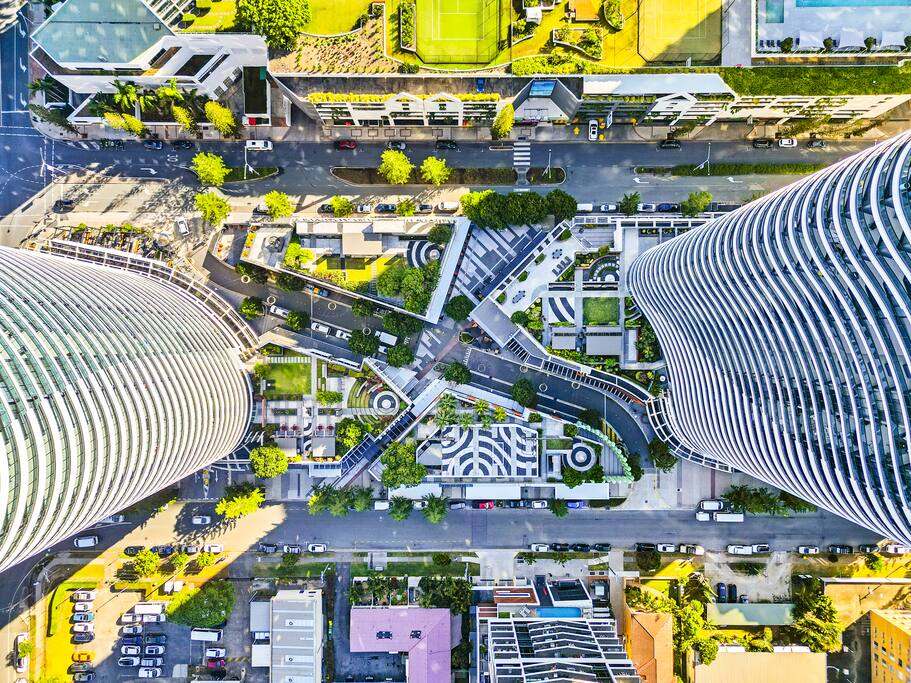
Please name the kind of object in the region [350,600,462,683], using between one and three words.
house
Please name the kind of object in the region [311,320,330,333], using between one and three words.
vehicle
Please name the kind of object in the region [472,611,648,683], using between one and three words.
building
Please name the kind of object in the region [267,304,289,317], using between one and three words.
vehicle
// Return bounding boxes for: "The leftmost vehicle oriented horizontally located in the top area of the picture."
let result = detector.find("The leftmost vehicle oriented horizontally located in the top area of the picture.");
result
[54,199,77,212]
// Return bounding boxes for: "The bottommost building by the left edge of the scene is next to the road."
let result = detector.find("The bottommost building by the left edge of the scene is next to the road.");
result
[0,245,244,572]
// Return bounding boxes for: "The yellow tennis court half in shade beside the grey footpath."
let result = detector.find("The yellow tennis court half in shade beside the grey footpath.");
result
[639,0,728,62]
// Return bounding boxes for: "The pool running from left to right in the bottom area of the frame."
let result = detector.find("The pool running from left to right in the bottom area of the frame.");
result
[533,606,582,618]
